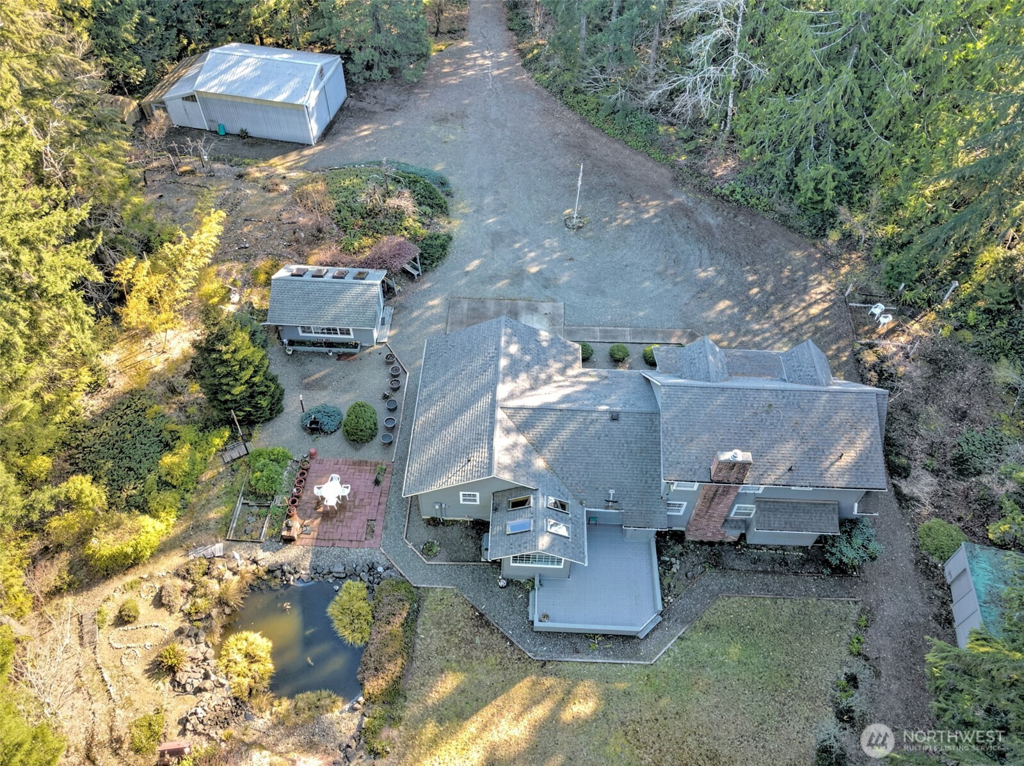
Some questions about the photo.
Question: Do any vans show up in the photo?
No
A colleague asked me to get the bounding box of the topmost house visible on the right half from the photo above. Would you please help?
[399,316,888,583]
